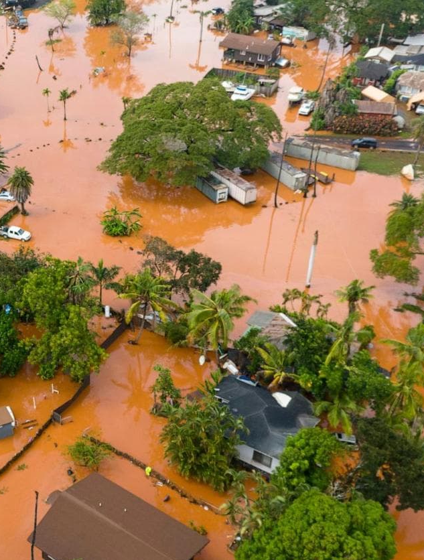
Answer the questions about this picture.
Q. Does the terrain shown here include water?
Yes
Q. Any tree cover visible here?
Yes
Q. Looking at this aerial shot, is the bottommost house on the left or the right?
left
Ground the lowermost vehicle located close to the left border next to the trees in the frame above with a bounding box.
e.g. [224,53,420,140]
[0,223,32,239]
